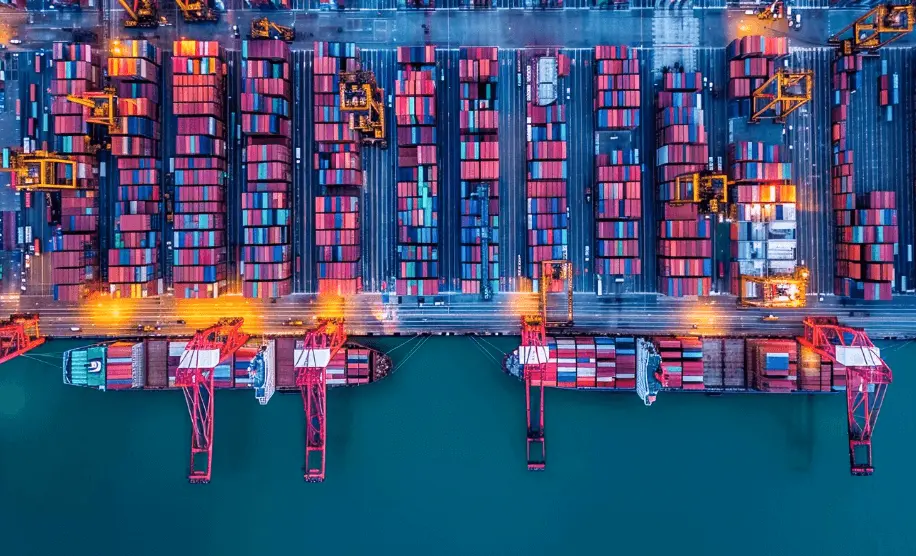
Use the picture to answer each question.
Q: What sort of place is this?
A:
port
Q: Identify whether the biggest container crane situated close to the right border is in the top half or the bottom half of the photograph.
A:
bottom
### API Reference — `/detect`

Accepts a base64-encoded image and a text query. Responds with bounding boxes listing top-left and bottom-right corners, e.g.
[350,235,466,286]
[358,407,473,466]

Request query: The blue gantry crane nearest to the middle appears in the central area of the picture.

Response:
[475,186,494,297]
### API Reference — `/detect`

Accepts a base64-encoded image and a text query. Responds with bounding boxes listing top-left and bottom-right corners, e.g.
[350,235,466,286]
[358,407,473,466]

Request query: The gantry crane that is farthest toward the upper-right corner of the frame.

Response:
[829,4,914,59]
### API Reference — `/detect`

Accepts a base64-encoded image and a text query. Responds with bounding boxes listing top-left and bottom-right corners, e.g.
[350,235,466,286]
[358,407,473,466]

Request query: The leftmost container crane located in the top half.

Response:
[0,152,75,192]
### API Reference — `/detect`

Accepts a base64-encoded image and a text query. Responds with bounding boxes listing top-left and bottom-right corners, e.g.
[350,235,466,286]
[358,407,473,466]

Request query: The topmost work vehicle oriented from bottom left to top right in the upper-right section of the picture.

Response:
[754,0,784,25]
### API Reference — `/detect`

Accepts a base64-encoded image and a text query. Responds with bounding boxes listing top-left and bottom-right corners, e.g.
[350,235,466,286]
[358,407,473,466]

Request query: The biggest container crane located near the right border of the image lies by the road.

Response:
[796,313,900,478]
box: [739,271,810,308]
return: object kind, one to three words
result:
container crane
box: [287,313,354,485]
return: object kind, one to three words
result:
container crane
